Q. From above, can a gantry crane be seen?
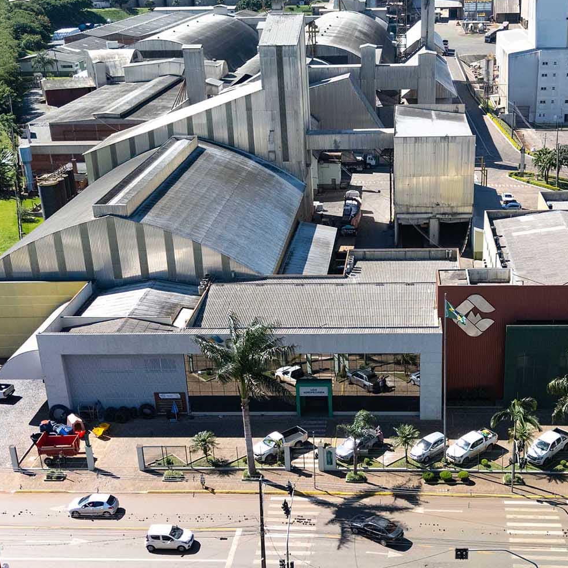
No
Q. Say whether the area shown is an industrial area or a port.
industrial area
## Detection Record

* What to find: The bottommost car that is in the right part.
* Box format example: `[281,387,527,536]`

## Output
[346,515,409,547]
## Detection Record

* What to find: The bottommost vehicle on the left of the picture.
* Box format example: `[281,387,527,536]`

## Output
[140,523,197,553]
